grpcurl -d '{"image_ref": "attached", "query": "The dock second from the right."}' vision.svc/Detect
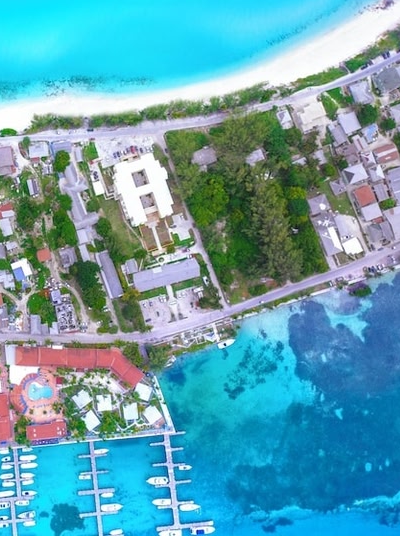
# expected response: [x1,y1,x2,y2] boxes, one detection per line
[78,440,118,536]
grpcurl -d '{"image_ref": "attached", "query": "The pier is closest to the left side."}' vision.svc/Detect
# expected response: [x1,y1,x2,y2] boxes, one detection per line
[0,446,35,536]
